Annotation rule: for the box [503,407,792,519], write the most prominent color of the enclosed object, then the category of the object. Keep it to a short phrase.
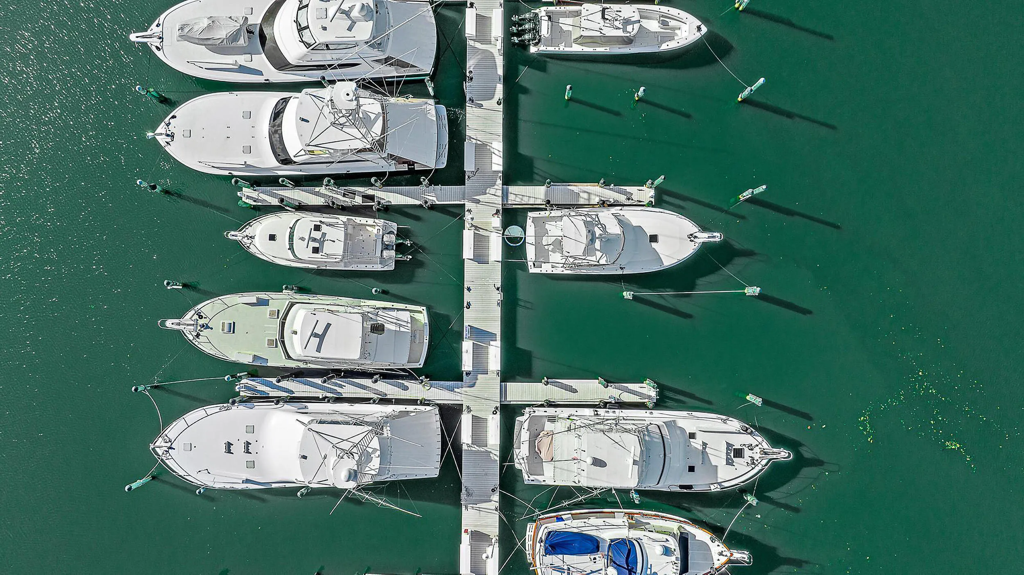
white boat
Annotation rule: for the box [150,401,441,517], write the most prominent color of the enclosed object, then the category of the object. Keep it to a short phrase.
white boat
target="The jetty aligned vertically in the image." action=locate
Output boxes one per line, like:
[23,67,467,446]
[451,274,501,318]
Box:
[459,0,504,575]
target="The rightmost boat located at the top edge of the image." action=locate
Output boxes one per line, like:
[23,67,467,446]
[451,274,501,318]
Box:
[511,4,708,57]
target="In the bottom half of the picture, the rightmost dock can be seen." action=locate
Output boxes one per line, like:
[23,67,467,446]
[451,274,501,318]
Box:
[501,378,659,404]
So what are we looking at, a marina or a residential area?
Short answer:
marina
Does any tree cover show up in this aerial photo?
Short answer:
No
